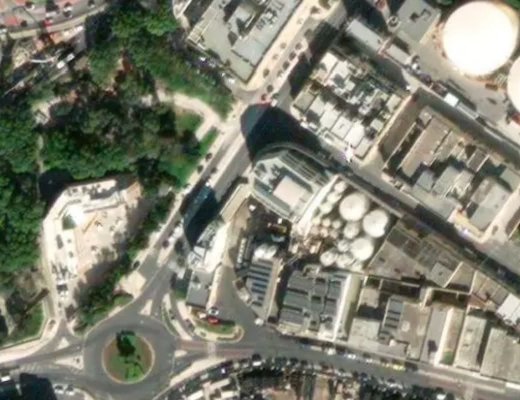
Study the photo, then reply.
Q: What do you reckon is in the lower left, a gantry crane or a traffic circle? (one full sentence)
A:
You can see a traffic circle in the lower left.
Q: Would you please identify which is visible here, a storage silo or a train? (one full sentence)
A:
Of the two, only a storage silo appears.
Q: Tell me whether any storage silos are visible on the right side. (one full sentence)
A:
Yes, I can see a storage silo on the right side.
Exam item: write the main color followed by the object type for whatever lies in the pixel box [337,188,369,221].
white silo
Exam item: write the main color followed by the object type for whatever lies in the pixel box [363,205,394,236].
white silo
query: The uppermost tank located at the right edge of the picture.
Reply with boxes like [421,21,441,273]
[442,0,519,76]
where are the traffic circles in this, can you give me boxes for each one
[102,331,153,382]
